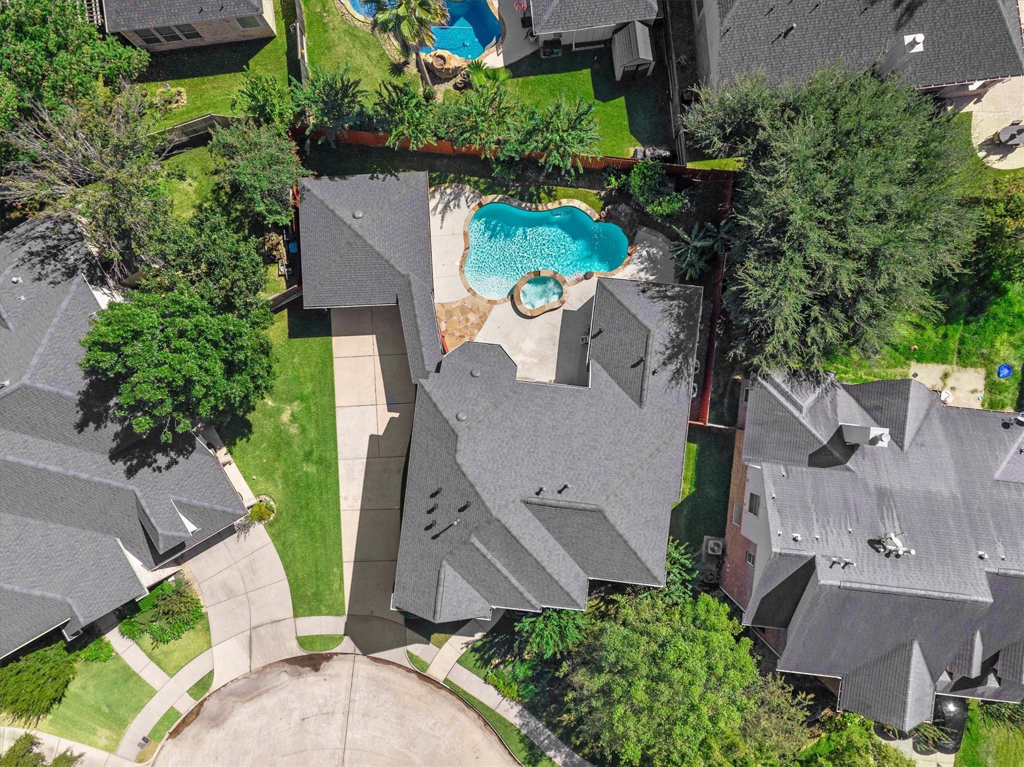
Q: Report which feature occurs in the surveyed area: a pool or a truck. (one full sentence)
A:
Of the two, only a pool appears.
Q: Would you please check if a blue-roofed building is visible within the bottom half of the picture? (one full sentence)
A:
No, within the bottom half of the picture there is no blue-roofed building.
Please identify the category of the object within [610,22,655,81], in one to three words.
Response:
shed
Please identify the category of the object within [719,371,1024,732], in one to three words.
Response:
house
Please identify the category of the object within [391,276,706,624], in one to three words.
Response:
house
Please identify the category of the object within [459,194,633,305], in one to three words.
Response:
swimming pool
